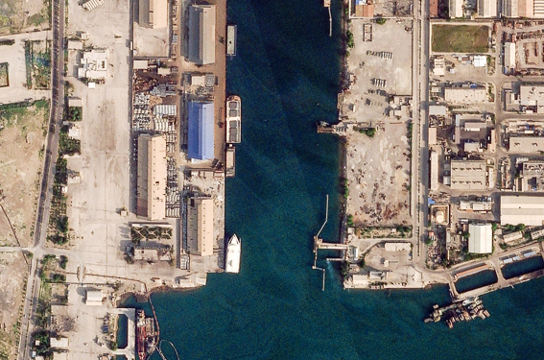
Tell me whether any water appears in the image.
Yes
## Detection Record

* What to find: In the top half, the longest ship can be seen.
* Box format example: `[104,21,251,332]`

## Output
[226,94,241,144]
